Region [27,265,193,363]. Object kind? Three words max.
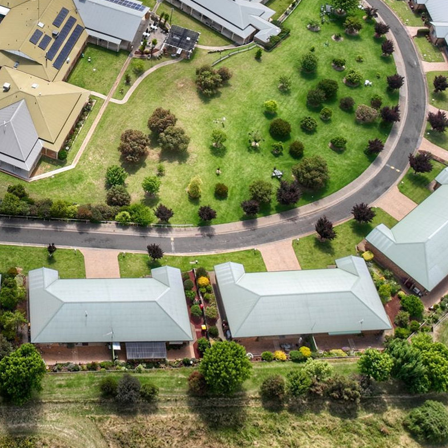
house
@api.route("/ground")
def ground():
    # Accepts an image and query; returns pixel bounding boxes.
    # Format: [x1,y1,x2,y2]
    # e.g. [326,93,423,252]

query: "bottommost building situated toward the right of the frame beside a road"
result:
[210,255,392,342]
